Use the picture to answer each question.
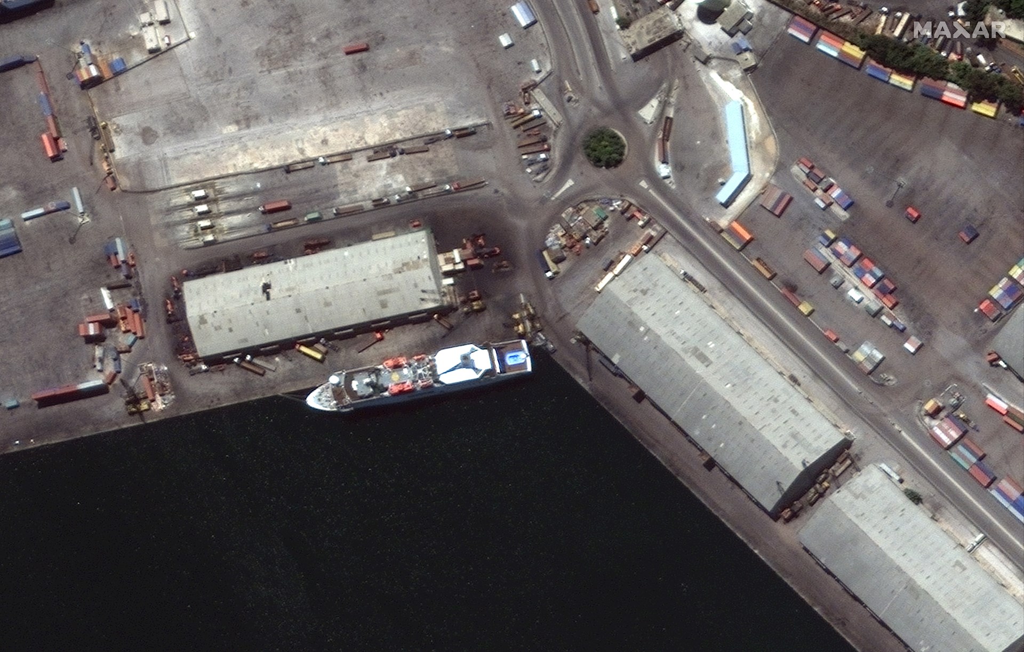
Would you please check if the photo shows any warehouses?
Yes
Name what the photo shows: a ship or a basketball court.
ship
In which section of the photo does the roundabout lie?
top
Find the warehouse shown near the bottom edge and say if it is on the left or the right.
right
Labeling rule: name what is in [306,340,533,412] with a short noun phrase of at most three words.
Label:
ship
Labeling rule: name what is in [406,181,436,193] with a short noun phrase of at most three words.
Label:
vehicle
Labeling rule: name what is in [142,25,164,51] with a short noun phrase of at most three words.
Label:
building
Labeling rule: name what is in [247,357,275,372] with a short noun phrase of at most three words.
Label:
vehicle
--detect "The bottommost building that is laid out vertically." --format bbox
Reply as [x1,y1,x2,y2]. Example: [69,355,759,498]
[986,304,1024,385]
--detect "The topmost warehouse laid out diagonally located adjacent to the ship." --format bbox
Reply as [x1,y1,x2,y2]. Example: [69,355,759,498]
[575,252,854,519]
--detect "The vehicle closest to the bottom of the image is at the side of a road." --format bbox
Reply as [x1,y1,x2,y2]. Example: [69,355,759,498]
[970,534,986,552]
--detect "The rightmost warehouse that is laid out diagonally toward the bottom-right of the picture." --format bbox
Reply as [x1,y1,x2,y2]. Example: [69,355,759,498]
[798,463,1024,652]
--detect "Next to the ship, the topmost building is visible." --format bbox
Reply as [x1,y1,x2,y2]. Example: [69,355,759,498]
[183,230,449,360]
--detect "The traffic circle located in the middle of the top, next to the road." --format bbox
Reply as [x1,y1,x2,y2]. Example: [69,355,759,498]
[566,109,645,188]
